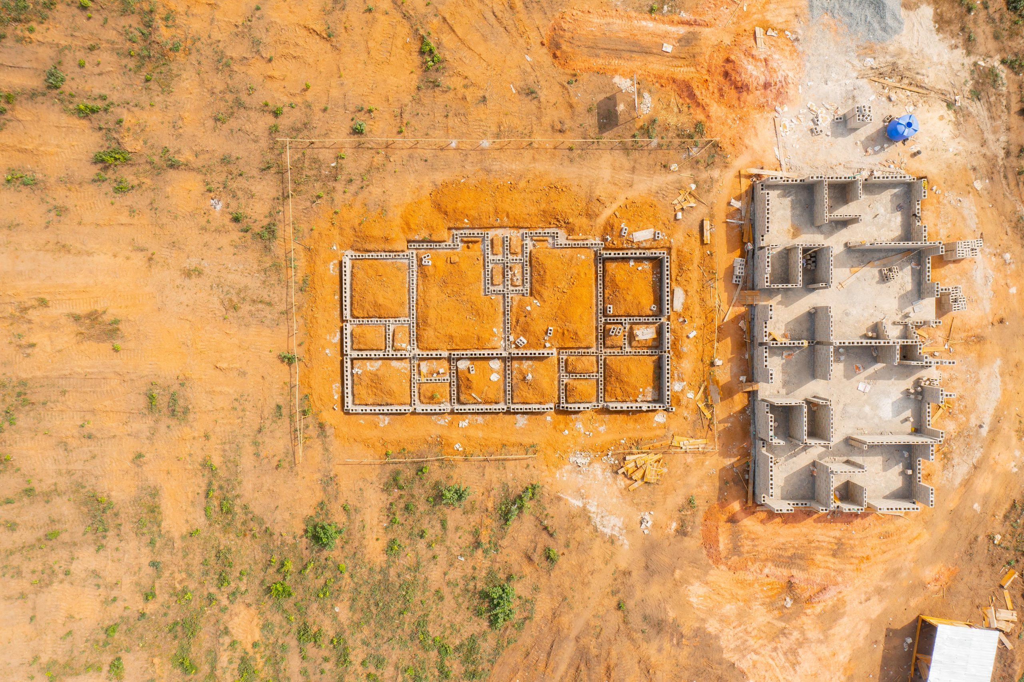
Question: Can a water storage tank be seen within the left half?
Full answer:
No, within the left half there is no water storage tank.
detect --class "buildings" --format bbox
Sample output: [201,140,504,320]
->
[910,614,1003,682]
[748,176,956,512]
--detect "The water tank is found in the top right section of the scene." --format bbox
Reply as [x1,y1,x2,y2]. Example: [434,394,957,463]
[886,112,921,141]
